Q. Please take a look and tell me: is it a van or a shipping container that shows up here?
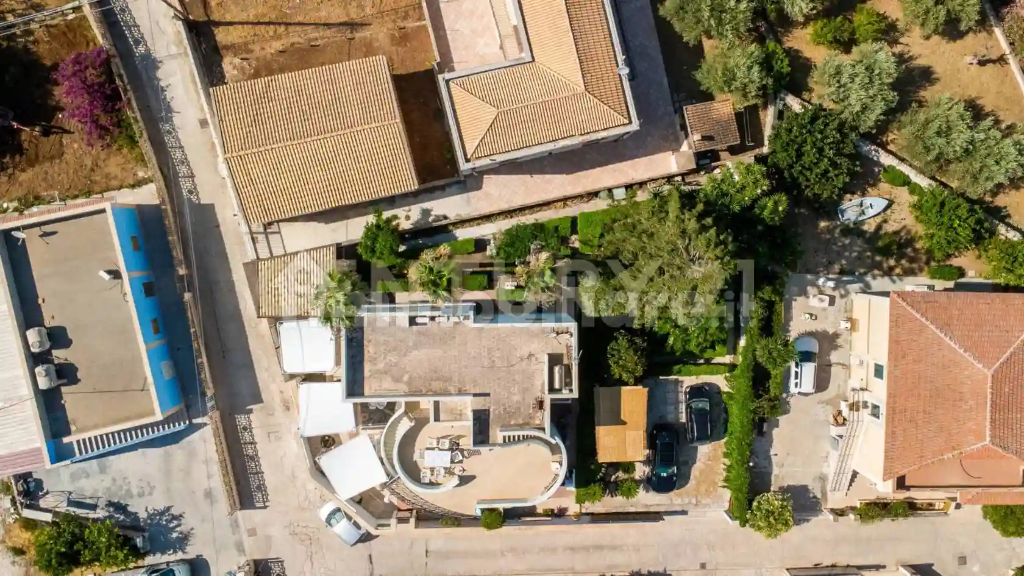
van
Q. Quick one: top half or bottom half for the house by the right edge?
bottom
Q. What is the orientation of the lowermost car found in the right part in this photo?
vertically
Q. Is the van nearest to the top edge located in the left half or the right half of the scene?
right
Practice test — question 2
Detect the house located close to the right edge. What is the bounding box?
[848,290,1024,496]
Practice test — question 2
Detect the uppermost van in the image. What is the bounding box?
[785,331,824,395]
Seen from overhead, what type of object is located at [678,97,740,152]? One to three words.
shed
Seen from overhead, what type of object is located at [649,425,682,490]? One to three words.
car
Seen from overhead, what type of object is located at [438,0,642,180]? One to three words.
house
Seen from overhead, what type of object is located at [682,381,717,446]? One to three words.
car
